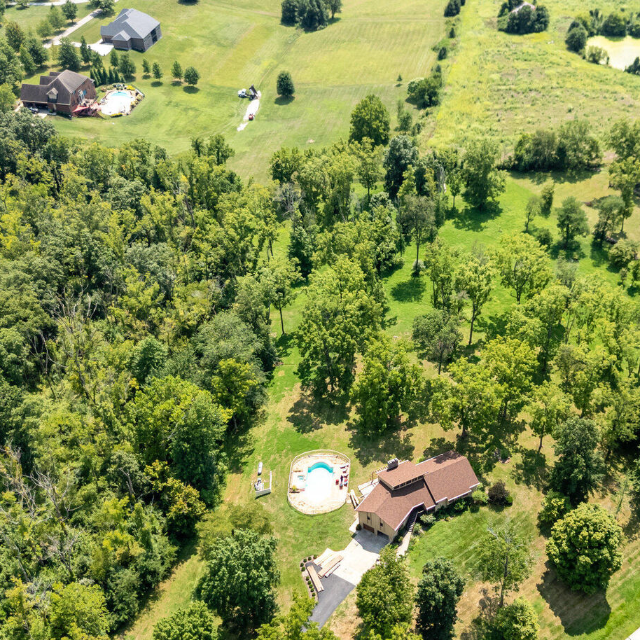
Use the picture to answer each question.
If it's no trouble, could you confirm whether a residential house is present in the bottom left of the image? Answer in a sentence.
No, I see no residential house in the bottom left of the image.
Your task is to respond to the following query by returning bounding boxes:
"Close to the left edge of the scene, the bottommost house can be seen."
[20,70,97,117]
